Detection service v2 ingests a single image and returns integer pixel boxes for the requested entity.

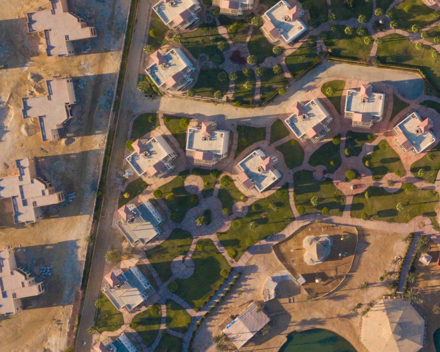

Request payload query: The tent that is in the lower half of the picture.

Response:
[304,235,335,265]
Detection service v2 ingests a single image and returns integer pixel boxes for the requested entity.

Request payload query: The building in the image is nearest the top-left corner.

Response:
[26,0,97,56]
